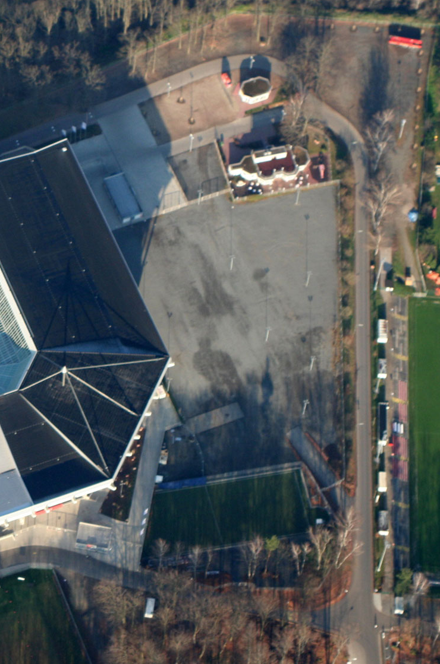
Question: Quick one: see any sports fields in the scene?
Yes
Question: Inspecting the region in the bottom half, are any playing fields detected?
Yes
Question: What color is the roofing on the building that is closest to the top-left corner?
blue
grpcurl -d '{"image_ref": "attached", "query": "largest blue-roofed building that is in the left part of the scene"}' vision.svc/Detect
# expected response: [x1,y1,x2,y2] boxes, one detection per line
[103,173,143,223]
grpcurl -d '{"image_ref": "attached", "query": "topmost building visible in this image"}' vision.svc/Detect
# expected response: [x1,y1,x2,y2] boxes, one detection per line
[239,76,272,105]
